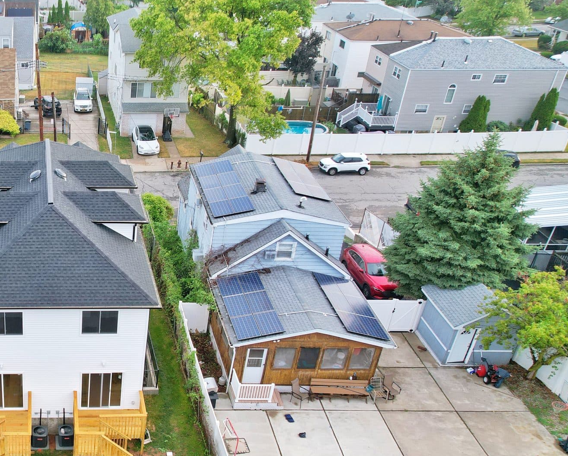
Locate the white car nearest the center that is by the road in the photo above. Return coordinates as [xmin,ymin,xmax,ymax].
[315,152,380,179]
